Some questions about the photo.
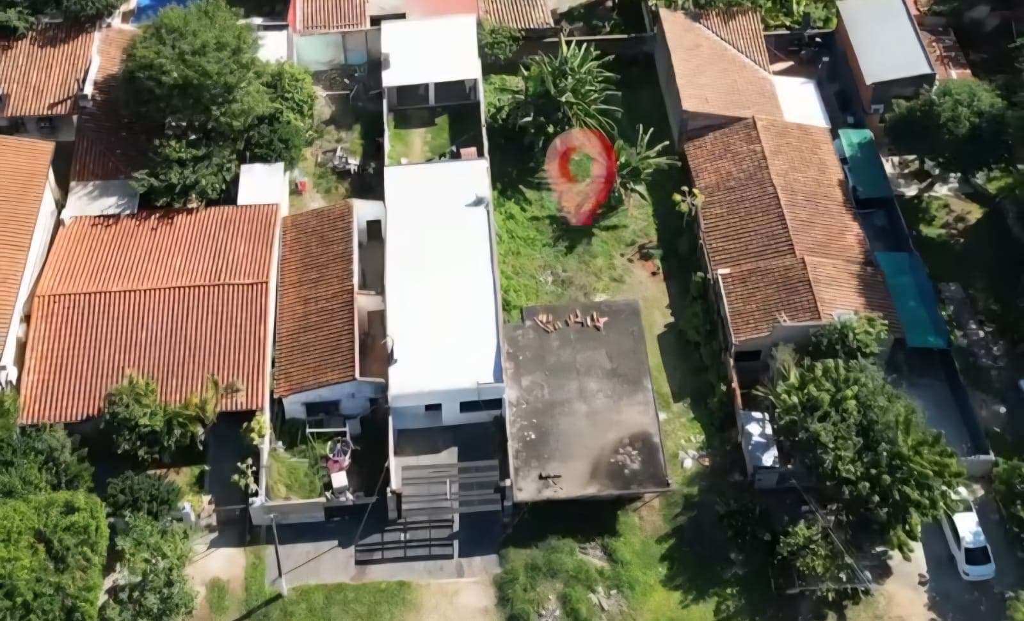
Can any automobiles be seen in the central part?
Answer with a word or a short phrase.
No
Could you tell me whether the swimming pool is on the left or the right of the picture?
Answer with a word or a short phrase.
left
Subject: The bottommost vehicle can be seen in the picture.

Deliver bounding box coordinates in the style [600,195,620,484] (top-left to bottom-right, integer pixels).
[945,498,998,576]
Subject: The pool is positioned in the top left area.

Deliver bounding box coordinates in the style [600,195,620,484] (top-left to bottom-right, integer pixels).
[123,0,224,30]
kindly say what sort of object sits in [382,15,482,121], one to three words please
building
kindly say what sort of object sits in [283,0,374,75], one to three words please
house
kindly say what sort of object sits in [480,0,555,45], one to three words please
house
